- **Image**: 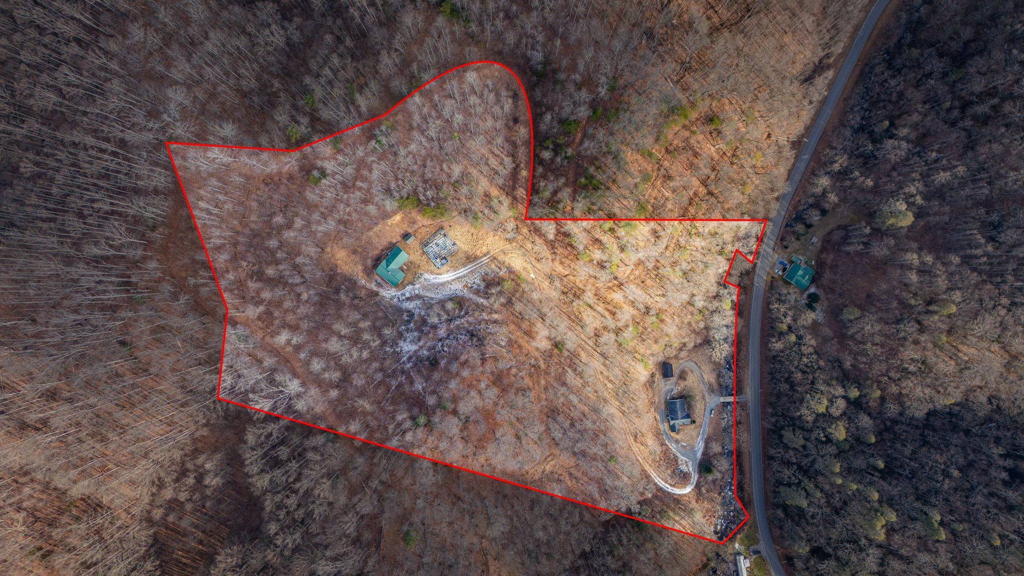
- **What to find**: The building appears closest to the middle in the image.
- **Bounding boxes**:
[421,227,460,269]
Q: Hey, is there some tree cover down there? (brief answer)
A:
Yes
